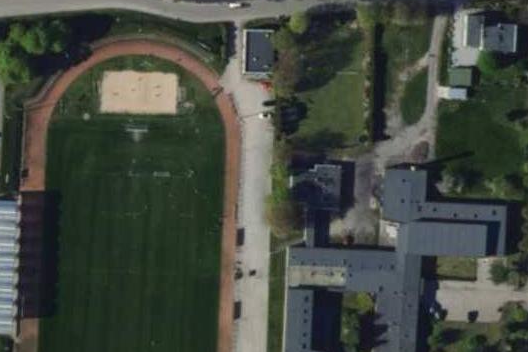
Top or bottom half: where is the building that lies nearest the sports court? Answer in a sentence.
The top half of the photo is where the building that lies nearest the sports court is.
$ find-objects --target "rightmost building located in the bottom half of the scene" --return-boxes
[282,165,507,352]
